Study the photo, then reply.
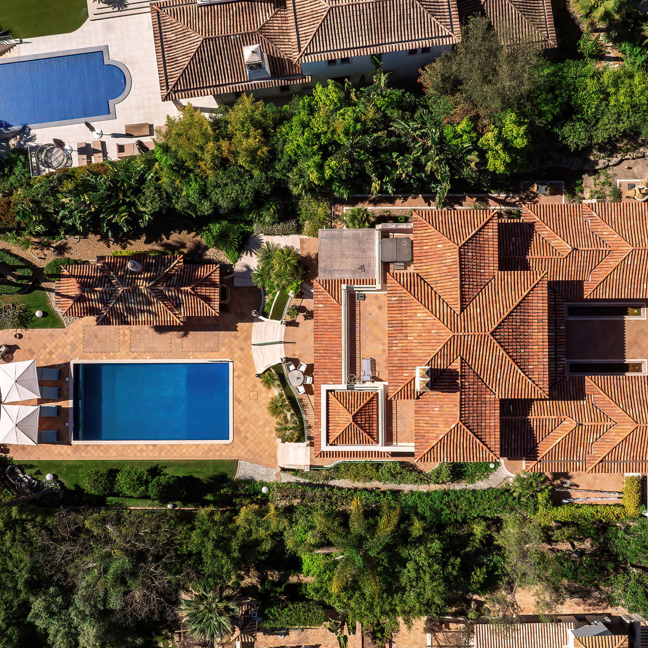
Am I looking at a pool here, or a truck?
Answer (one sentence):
Visible in the photo is a pool.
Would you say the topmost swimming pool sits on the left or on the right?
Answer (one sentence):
It is on the left.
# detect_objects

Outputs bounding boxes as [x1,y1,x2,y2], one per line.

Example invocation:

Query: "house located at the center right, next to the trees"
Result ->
[313,200,648,519]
